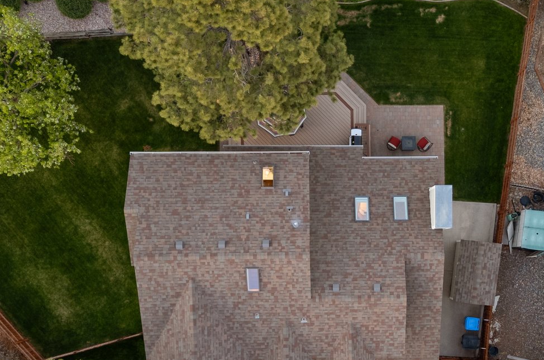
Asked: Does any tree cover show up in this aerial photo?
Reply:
Yes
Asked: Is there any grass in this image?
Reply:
Yes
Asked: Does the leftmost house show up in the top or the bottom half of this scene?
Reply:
bottom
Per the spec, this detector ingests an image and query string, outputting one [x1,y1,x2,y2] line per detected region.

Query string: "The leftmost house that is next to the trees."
[124,143,452,360]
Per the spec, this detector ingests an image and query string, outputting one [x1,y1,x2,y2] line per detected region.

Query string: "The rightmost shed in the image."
[503,205,544,255]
